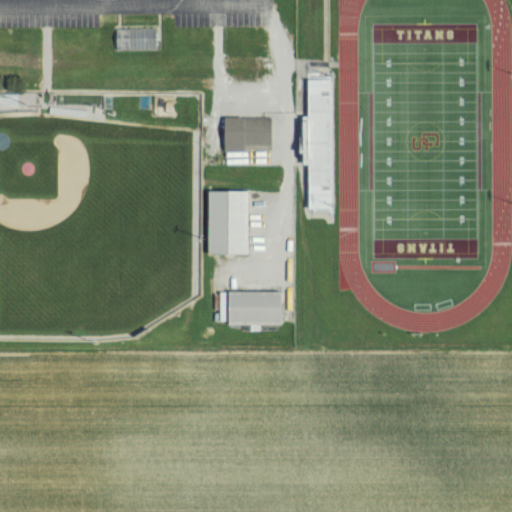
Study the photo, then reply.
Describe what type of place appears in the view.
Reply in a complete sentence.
What you see here is a sports ground.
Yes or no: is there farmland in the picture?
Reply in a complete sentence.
Yes, there's farmland in this view.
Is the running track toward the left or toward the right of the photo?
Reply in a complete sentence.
The running track is on the right side of the image.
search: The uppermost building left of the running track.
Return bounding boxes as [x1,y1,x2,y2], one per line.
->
[117,28,157,50]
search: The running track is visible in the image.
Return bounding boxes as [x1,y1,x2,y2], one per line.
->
[340,0,510,332]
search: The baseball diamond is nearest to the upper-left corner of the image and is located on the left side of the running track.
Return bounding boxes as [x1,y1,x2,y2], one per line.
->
[0,116,199,338]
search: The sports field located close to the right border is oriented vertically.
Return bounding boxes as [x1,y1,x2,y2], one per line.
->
[358,0,492,312]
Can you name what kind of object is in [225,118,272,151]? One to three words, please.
shed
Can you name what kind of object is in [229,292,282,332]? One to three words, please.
building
